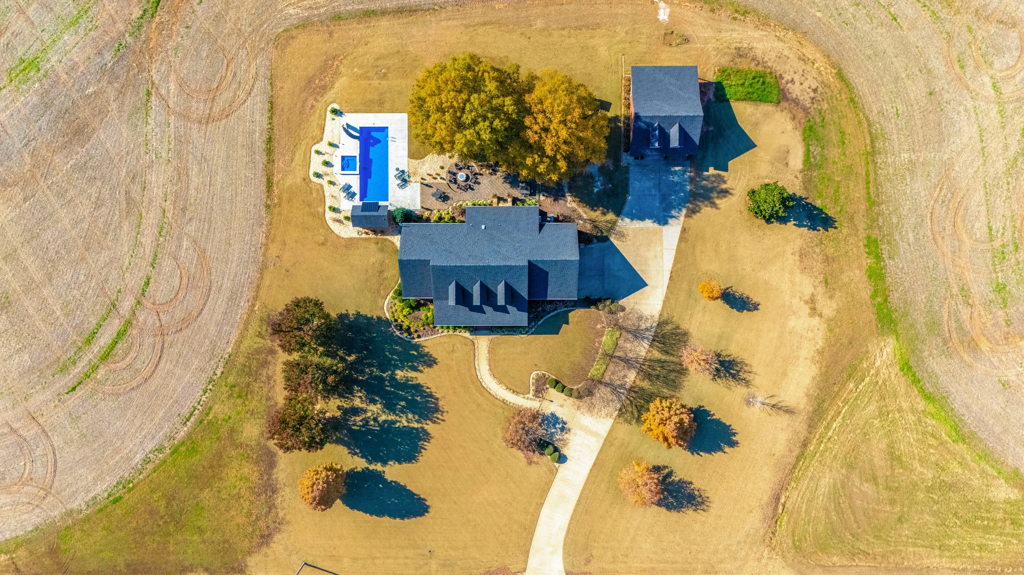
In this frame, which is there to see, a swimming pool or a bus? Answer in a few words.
swimming pool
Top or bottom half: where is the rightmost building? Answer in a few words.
top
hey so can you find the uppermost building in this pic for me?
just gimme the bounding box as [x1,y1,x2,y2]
[629,65,703,158]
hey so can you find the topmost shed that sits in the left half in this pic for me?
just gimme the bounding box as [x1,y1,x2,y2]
[350,205,390,227]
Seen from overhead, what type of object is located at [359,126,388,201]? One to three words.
swimming pool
